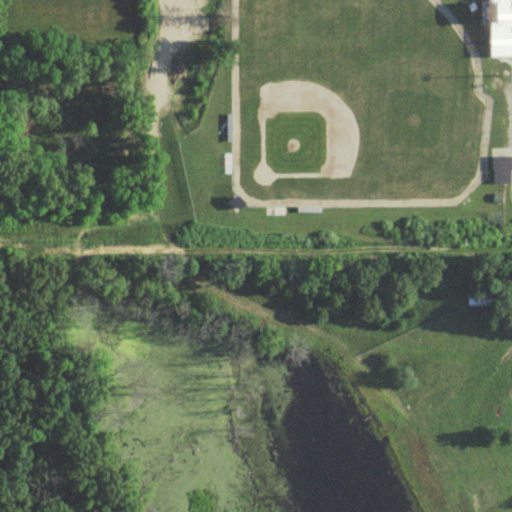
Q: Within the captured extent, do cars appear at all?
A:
No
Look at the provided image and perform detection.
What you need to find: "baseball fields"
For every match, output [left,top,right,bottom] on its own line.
[231,0,494,208]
